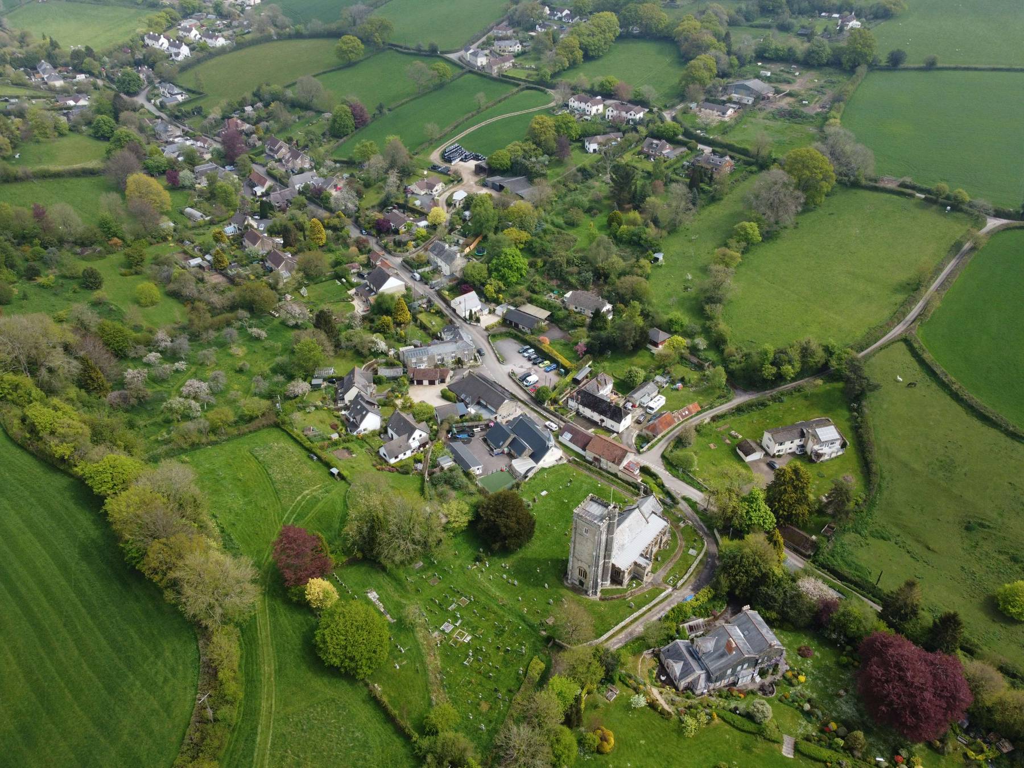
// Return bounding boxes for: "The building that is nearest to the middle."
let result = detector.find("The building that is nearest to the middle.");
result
[457,372,522,429]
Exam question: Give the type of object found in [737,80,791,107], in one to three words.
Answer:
barn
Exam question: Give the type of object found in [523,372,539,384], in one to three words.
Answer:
vehicle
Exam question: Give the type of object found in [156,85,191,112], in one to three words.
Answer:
house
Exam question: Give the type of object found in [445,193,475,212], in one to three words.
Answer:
shed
